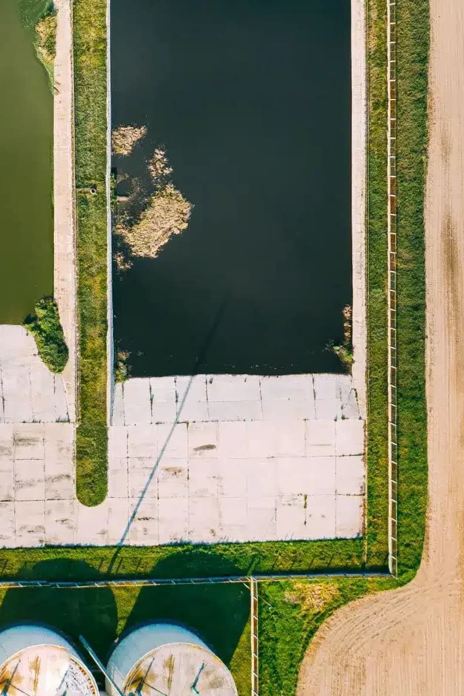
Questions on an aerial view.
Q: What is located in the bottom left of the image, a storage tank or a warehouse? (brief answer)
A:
storage tank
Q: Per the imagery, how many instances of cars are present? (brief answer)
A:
0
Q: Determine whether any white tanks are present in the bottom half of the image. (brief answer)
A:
Yes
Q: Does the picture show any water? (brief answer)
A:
Yes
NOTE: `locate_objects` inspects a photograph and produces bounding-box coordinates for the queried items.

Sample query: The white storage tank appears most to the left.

[0,623,98,696]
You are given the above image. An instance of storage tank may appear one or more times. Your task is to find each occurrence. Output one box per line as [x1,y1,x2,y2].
[0,623,98,696]
[108,622,235,696]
